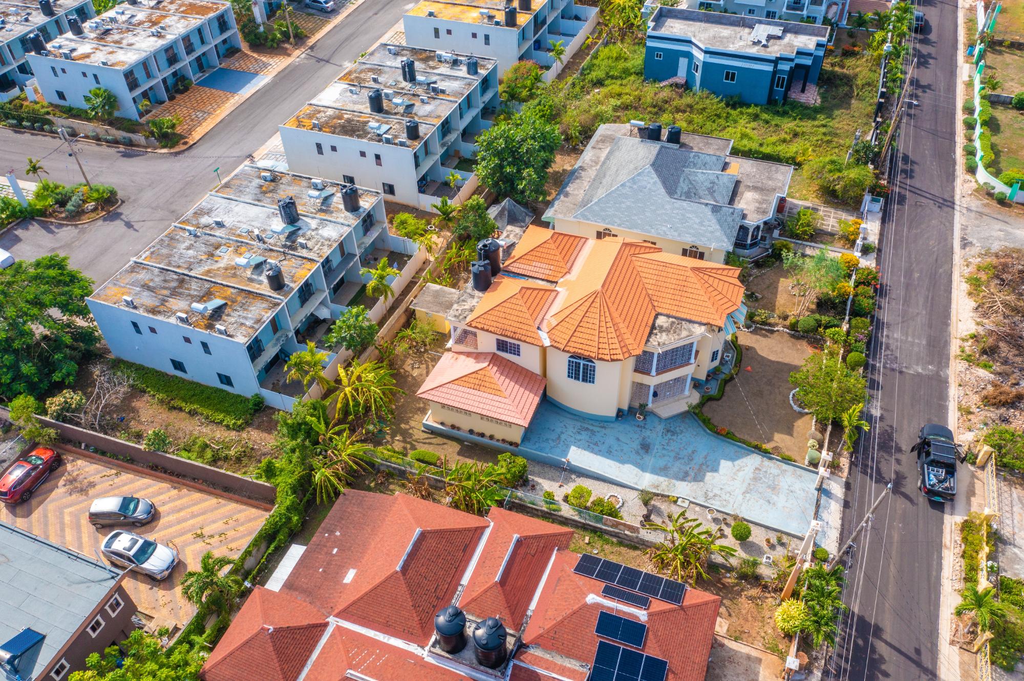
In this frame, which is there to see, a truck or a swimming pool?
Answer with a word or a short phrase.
truck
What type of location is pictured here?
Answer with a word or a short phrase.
residential area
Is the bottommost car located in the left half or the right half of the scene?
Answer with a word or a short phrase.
left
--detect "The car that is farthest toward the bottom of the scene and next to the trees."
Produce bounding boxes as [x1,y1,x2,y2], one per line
[96,523,179,580]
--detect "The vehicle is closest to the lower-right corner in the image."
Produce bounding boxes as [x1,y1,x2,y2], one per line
[909,427,970,505]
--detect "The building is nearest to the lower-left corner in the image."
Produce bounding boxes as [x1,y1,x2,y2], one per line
[0,528,141,681]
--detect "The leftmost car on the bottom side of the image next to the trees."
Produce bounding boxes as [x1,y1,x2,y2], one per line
[0,439,65,503]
